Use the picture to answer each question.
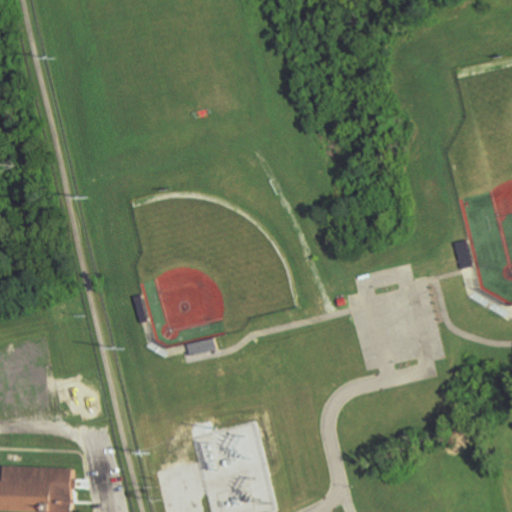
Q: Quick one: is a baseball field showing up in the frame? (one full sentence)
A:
Yes, the frame does contain a baseball field.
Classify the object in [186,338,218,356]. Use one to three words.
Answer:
building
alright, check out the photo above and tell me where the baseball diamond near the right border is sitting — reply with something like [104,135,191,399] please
[448,57,512,304]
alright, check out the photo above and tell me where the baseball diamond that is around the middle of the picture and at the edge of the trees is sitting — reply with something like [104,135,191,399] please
[132,190,296,348]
